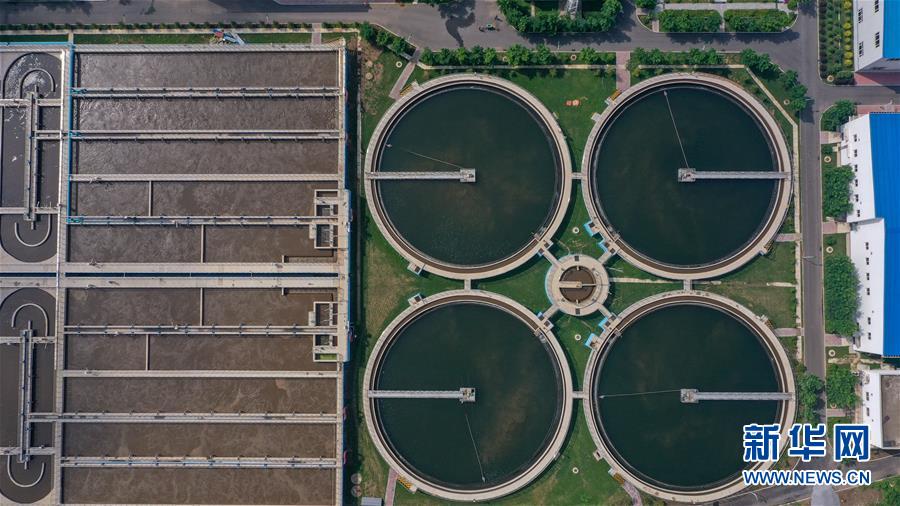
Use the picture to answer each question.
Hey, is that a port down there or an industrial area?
industrial area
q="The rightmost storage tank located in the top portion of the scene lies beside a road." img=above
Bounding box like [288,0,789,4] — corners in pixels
[580,70,794,280]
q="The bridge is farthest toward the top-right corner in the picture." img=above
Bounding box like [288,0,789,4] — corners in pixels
[678,168,794,182]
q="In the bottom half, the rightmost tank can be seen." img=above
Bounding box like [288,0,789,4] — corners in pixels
[583,290,798,506]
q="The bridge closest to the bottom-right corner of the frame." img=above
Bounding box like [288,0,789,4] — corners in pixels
[680,388,798,403]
